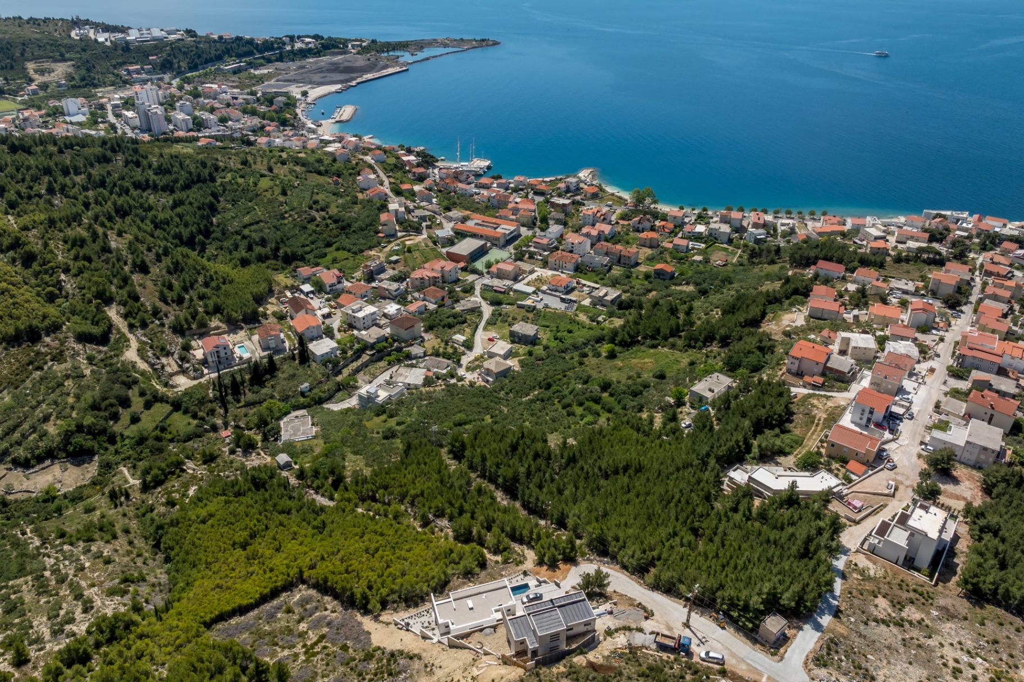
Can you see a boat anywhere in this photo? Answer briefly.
Yes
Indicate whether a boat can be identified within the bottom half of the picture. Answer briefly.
No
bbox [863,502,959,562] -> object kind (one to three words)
house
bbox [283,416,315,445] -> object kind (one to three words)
house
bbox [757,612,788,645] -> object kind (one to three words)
shed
